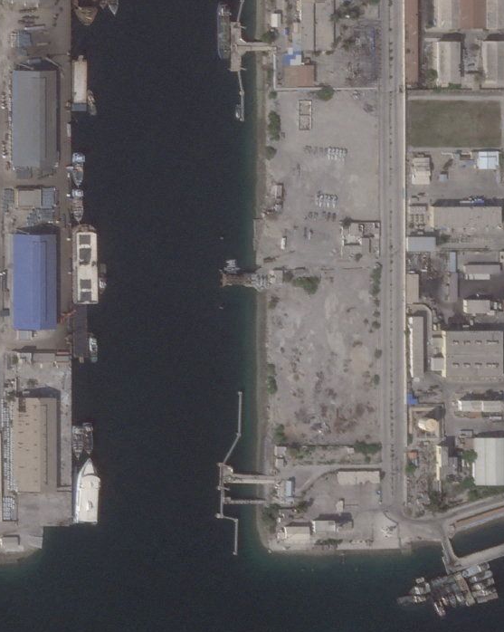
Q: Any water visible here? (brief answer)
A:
Yes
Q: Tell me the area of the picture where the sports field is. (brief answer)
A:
top right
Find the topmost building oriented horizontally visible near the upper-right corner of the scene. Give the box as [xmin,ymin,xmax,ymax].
[434,0,504,28]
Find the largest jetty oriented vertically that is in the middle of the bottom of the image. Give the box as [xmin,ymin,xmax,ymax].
[216,391,275,555]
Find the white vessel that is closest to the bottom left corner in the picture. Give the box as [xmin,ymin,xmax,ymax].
[75,459,101,523]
